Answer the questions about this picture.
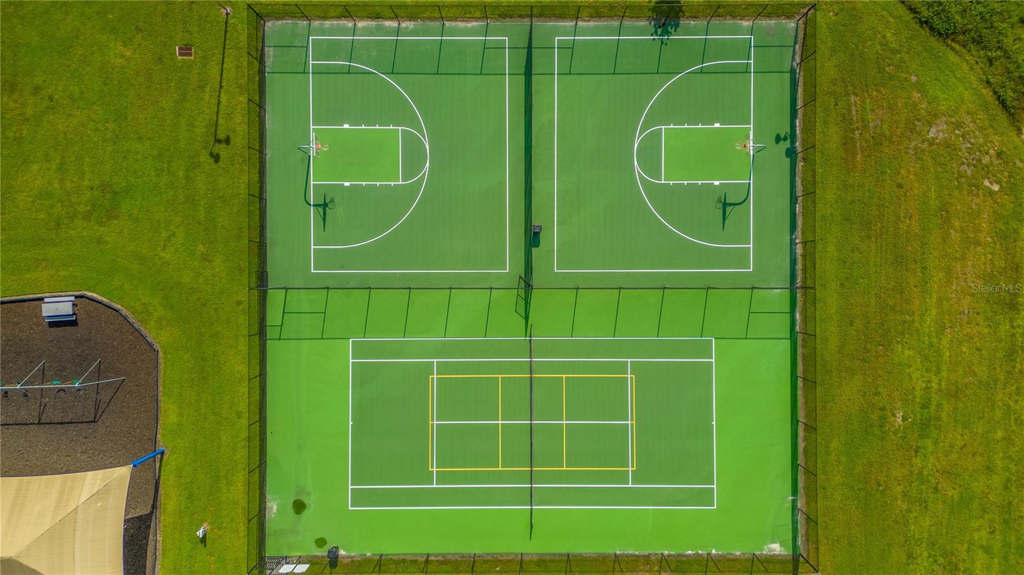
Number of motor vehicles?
zero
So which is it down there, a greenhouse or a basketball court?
basketball court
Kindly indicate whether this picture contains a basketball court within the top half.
Yes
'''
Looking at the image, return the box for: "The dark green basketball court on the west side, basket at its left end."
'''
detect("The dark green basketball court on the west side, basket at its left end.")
[265,21,531,288]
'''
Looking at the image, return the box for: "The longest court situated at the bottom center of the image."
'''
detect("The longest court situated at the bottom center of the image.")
[265,289,799,556]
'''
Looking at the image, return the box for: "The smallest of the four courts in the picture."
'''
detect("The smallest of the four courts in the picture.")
[429,375,635,470]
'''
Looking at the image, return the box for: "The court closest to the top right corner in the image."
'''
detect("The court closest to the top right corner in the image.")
[532,21,798,288]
